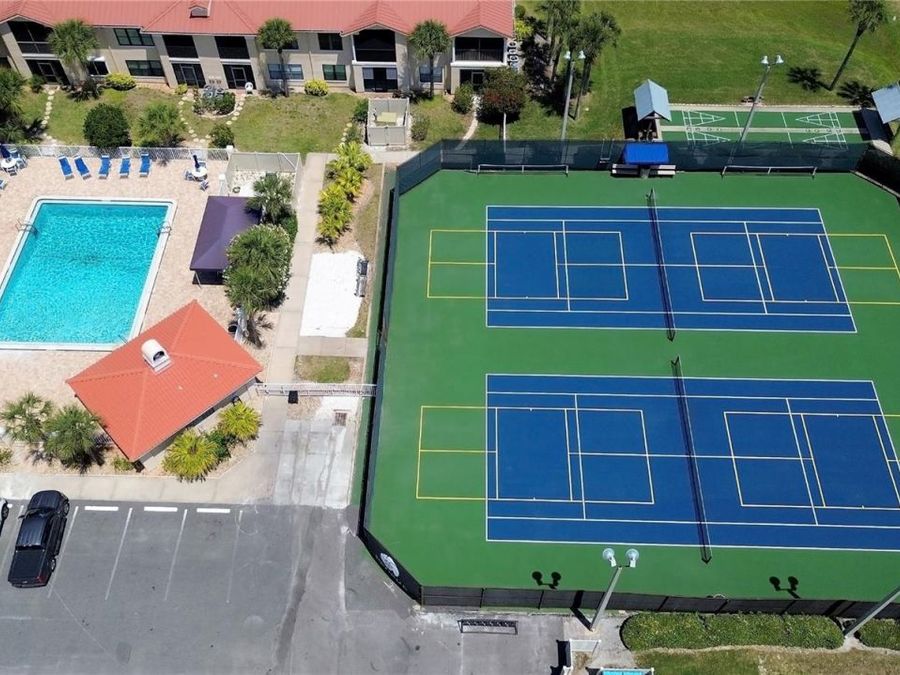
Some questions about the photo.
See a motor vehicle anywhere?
Yes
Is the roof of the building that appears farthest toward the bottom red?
Yes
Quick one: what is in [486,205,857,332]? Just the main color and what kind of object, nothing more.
blue tennis court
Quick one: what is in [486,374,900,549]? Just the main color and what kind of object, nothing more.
blue tennis court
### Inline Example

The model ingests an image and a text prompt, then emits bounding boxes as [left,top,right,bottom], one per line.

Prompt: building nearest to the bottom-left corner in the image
[67,299,263,468]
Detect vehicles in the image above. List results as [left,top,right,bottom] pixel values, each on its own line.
[0,495,8,520]
[6,488,70,588]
